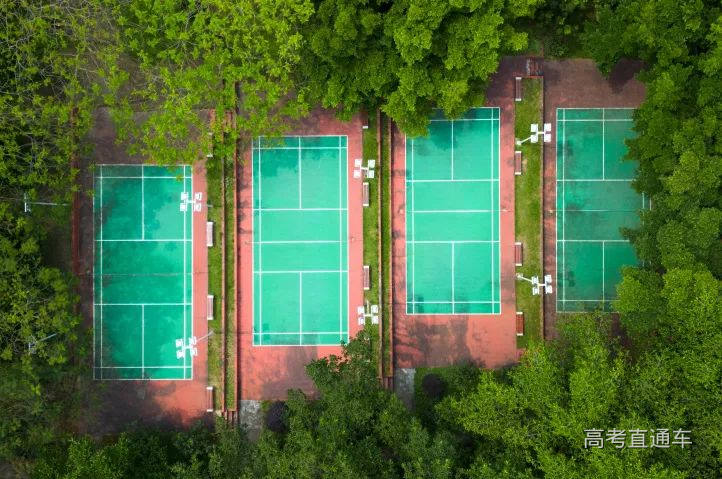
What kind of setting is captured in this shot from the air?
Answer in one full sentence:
This looks like a sports ground.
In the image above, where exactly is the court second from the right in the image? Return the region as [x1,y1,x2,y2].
[392,56,527,368]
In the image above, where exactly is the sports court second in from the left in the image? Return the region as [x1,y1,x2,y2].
[238,109,362,400]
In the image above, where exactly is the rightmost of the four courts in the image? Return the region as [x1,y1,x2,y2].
[544,58,673,346]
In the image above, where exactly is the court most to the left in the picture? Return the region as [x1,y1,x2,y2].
[80,109,207,435]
